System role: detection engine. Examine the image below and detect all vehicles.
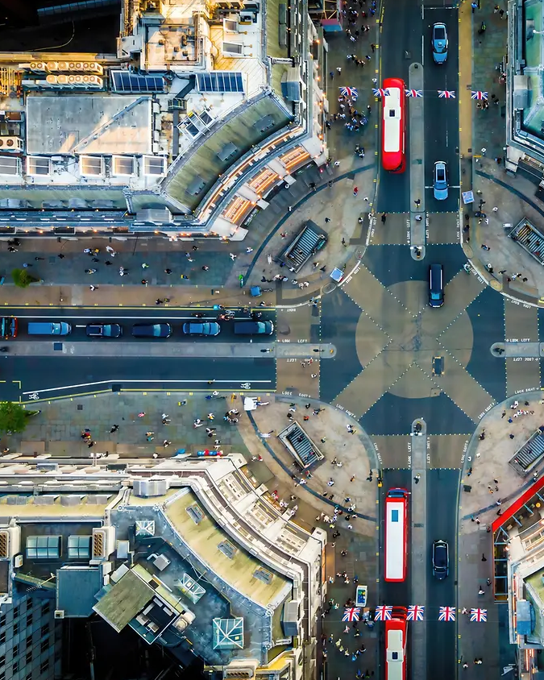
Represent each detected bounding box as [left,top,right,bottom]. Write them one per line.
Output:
[134,320,174,340]
[27,319,72,338]
[379,78,405,174]
[382,490,408,581]
[85,322,125,340]
[382,608,408,680]
[233,317,275,337]
[182,319,222,338]
[430,26,447,64]
[431,163,450,202]
[426,265,445,306]
[0,314,22,340]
